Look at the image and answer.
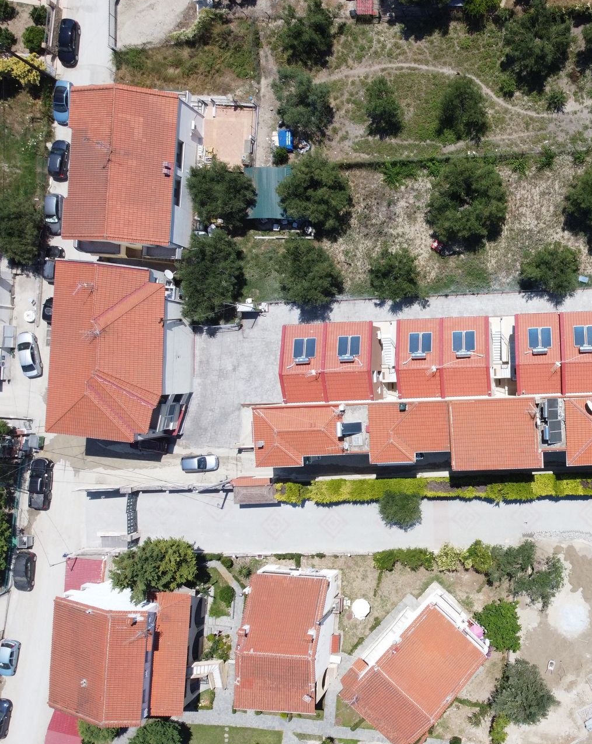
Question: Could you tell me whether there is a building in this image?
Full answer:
Yes, a building can be made out from above.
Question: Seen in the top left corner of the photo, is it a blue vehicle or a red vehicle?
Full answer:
It is a blue vehicle that can be seen in the top left corner of the photo.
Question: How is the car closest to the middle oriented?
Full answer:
What the image shows is the car closest to the middle lying from side to side.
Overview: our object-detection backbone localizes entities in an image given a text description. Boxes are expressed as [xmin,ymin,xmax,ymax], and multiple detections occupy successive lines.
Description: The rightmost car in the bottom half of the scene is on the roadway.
[179,452,222,474]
